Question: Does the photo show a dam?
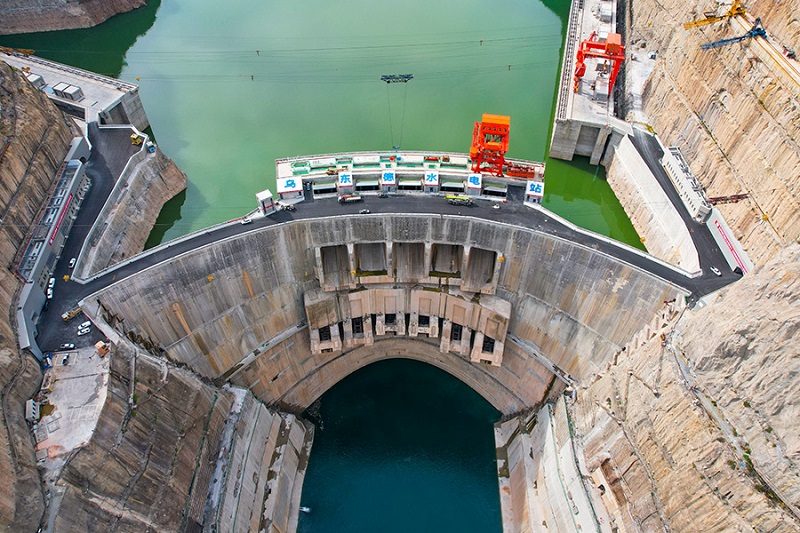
Yes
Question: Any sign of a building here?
Yes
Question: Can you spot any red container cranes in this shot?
Yes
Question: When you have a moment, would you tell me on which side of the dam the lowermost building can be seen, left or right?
to the left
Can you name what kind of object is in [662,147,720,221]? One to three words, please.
building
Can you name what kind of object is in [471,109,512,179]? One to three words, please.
container crane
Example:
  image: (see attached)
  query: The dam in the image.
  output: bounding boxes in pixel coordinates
[66,149,709,419]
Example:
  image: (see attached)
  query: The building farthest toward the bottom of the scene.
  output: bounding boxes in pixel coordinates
[16,400,41,425]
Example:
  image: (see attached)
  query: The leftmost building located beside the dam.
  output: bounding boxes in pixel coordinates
[5,163,88,293]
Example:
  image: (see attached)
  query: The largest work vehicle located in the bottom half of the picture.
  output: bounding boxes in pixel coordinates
[89,338,109,356]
